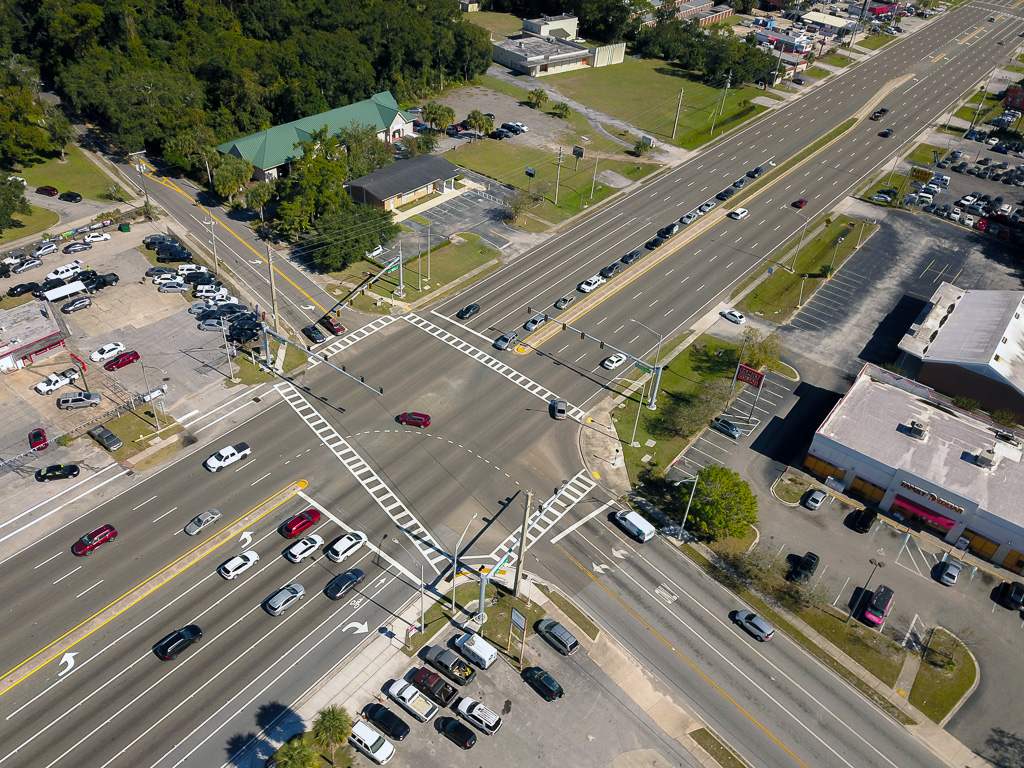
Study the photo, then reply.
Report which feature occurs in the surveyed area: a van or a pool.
van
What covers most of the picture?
paved ground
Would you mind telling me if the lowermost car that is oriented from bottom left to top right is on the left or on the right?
left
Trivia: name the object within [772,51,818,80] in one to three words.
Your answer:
building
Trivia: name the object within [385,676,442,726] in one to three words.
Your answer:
truck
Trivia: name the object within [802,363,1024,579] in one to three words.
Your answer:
building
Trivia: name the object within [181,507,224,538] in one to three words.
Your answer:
car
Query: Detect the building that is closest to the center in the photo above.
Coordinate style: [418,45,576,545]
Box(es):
[347,155,461,214]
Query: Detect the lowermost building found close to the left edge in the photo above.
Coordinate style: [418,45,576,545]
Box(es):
[0,303,75,389]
